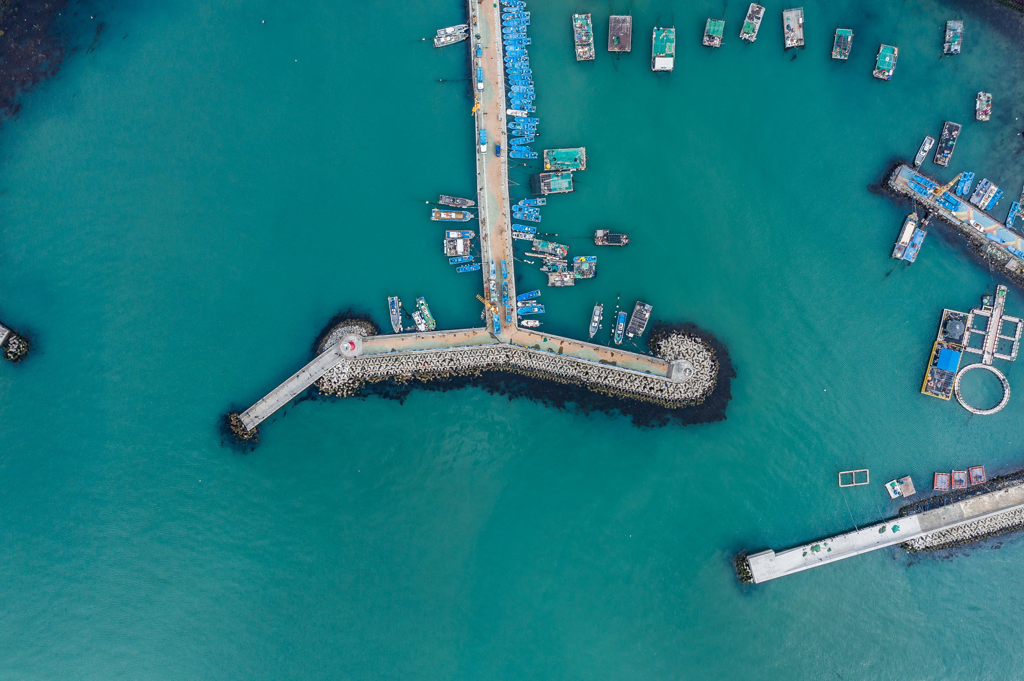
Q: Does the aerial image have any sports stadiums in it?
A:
No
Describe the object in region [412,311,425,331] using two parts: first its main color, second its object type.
white boat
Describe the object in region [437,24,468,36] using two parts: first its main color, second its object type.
white boat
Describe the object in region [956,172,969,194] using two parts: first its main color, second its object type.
blue boat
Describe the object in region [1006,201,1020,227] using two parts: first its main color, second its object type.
blue boat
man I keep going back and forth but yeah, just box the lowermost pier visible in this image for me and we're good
[746,483,1024,583]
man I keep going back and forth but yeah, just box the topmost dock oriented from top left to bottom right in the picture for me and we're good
[892,165,1024,265]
